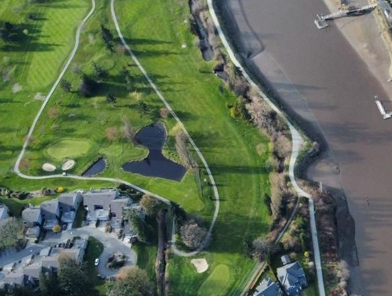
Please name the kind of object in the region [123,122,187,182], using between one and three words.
pond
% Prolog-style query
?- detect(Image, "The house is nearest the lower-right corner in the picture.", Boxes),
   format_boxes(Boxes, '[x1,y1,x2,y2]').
[280,265,305,291]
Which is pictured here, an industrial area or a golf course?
golf course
